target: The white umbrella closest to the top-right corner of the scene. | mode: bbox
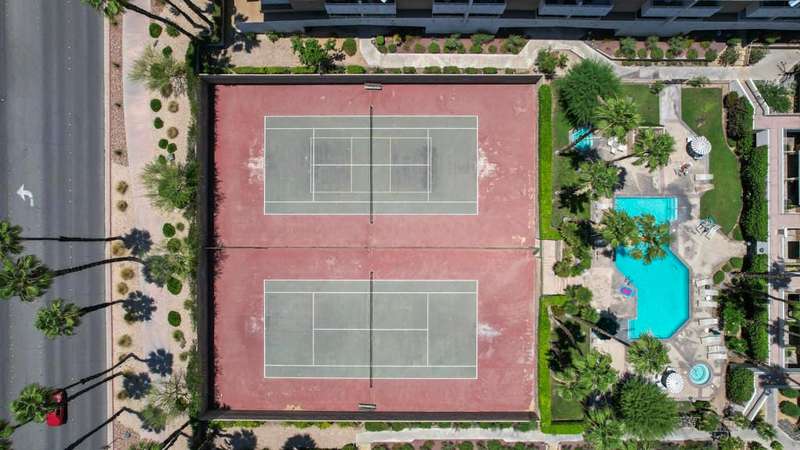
[687,135,710,158]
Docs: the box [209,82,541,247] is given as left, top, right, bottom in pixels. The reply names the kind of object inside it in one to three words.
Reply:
tennis court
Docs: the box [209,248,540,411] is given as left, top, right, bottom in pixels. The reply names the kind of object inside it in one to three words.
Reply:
tennis court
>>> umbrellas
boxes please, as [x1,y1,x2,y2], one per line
[662,370,683,391]
[687,135,710,158]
